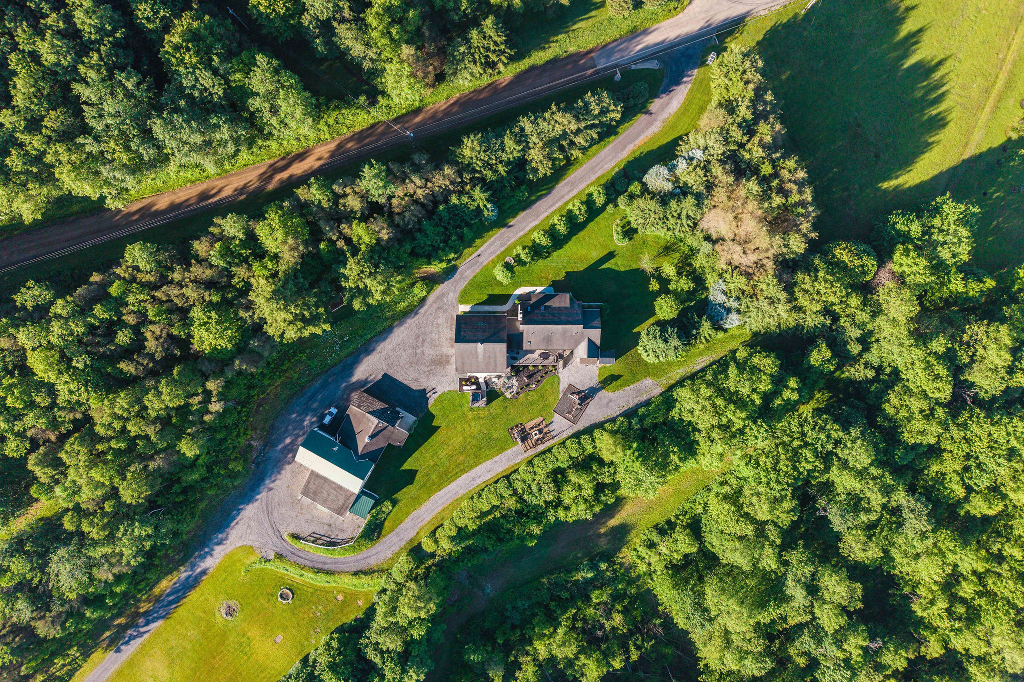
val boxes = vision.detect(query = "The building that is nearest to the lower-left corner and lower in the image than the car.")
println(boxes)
[295,428,378,519]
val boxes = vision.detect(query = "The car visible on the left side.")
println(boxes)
[321,406,337,427]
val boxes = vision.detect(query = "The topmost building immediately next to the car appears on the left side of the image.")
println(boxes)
[336,390,409,464]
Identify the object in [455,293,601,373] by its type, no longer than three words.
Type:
house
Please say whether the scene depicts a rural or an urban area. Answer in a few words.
rural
